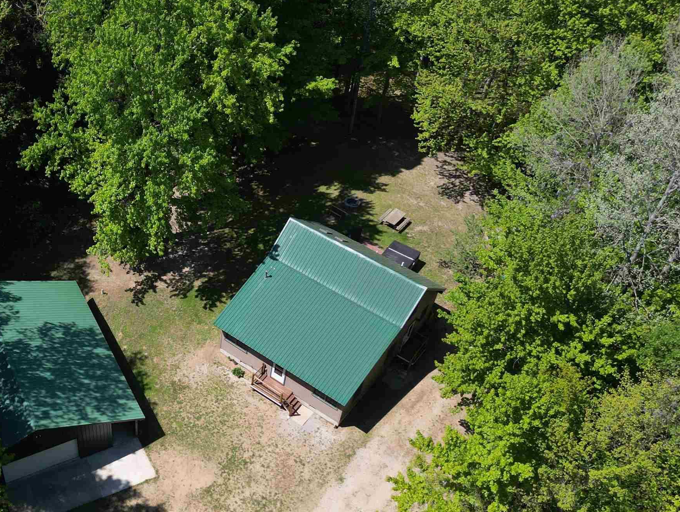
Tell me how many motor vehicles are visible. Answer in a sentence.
There are no motor vehicles in this view.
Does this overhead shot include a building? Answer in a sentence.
Yes, there's a building down there.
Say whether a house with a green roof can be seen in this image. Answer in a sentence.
Yes, the photo shows a house with a green roof.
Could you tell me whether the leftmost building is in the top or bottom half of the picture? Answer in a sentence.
The bottom half of the photo is where the leftmost building is.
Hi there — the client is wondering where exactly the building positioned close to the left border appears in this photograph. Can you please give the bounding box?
[0,279,146,486]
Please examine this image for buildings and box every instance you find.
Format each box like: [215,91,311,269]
[0,279,146,486]
[213,216,445,427]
